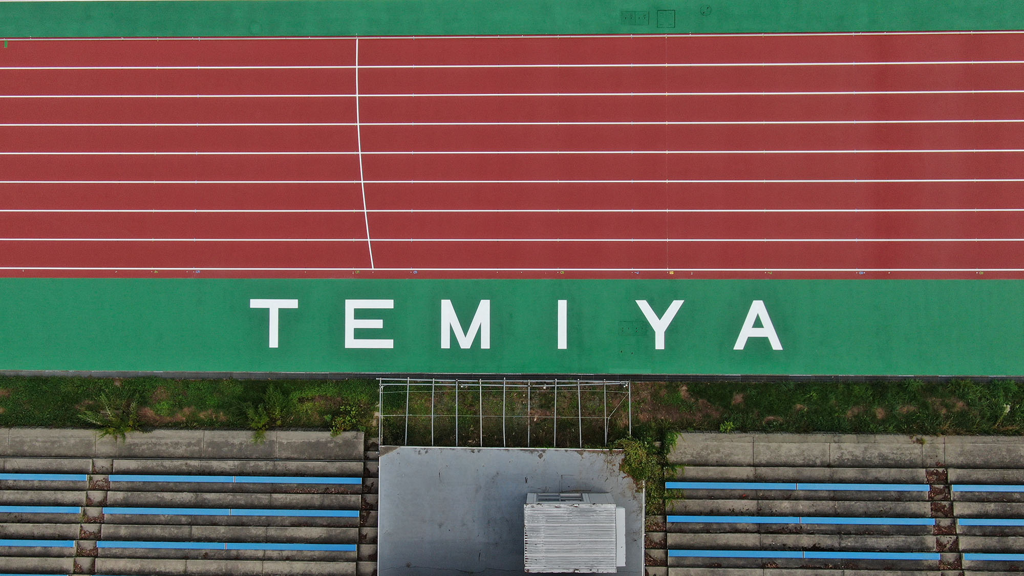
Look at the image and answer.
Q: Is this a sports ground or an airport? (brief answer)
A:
sports ground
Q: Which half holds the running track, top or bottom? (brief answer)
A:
top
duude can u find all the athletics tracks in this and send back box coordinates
[0,30,1024,280]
